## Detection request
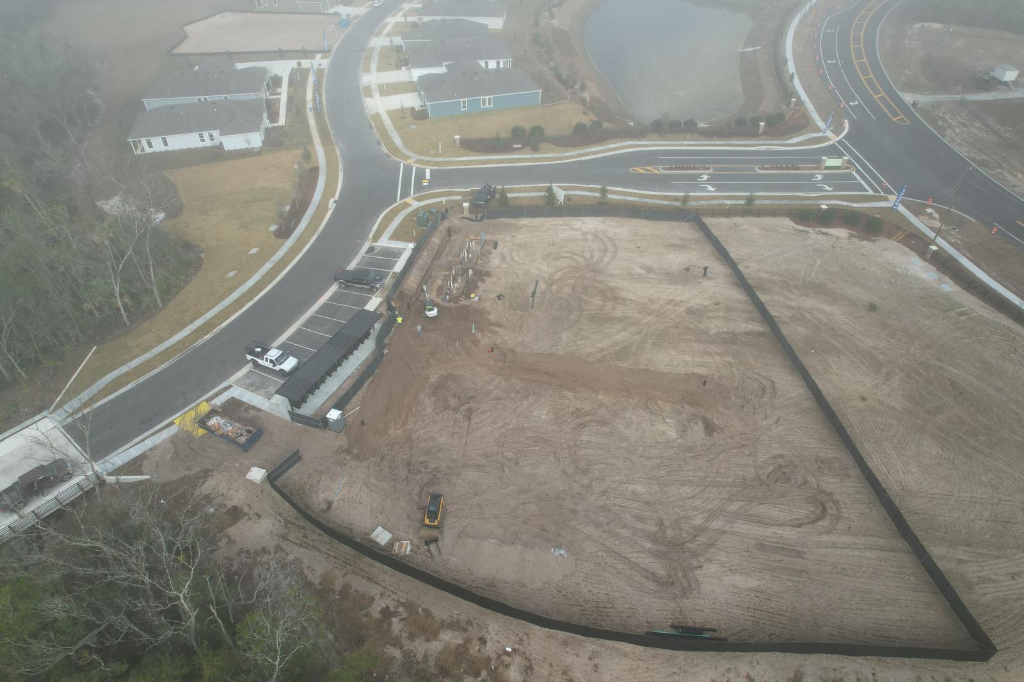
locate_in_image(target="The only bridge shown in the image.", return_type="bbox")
[0,349,151,536]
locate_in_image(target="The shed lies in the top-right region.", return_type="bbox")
[985,58,1021,86]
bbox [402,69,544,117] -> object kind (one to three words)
house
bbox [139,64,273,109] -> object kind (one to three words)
house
